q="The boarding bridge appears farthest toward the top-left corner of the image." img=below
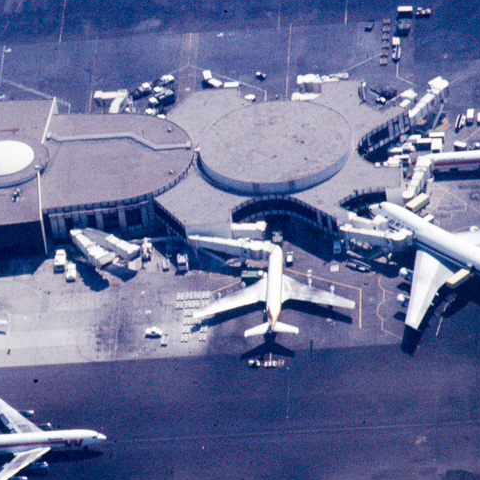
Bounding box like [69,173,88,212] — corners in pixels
[89,91,129,115]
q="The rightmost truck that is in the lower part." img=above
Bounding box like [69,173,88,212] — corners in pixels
[441,272,474,304]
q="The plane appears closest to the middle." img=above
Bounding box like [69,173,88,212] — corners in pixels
[194,248,358,342]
